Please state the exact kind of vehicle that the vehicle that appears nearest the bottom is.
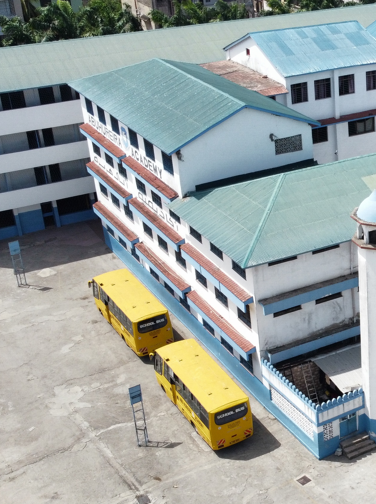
bus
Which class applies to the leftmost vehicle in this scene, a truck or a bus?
bus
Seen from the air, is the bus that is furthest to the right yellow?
Yes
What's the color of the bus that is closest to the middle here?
yellow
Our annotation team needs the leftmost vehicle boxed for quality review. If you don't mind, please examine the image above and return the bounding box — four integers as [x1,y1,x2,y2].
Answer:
[92,275,171,353]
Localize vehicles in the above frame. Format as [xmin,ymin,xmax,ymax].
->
[151,347,251,448]
[92,275,171,353]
